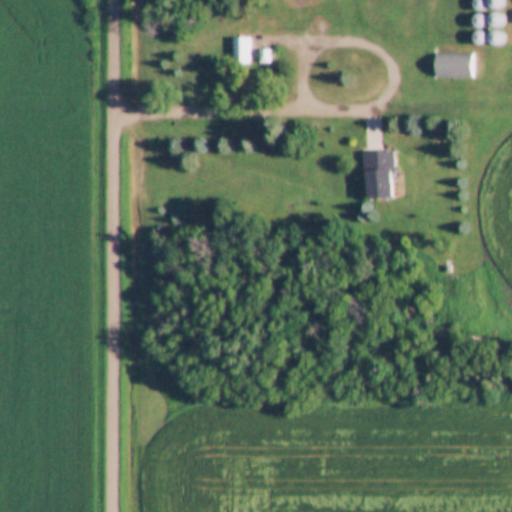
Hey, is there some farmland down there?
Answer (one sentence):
Yes, farmland can be seen from above here.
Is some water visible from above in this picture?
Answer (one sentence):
No, there's no water in this view.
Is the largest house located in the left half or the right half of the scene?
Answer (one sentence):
The largest house is on the right side of the image.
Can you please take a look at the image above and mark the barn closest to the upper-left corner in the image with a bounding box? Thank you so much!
[234,36,252,65]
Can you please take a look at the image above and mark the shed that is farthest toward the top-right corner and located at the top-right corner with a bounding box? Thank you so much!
[435,51,476,82]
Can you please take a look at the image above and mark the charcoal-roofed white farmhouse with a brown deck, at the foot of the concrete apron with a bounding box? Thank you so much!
[364,152,407,199]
